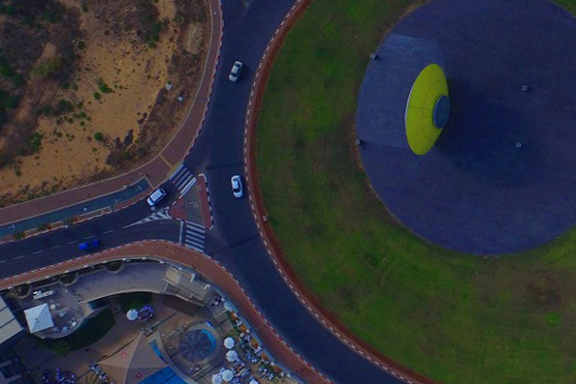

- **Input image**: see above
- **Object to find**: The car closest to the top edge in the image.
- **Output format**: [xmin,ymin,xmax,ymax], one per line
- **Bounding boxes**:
[228,61,241,81]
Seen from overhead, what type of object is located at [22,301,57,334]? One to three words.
tent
